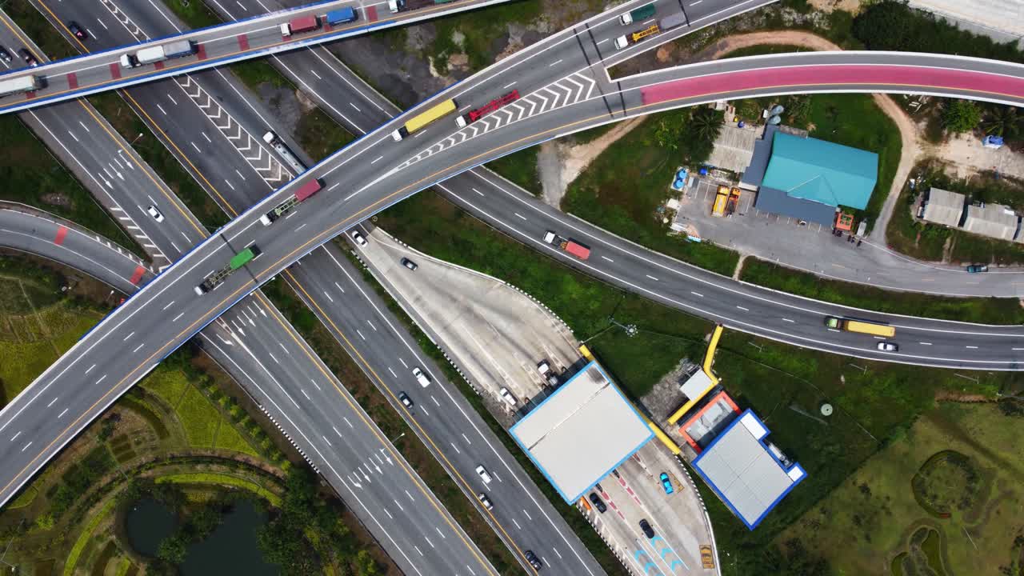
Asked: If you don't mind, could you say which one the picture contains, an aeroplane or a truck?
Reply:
truck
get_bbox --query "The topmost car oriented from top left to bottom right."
[70,21,88,40]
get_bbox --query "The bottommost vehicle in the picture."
[524,550,542,570]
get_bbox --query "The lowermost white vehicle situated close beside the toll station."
[499,387,518,408]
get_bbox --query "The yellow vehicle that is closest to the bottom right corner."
[823,317,896,336]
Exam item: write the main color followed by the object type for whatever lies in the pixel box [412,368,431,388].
white vehicle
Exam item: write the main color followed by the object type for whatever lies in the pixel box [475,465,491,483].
white car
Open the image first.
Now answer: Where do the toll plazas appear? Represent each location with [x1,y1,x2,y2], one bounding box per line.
[510,361,655,504]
